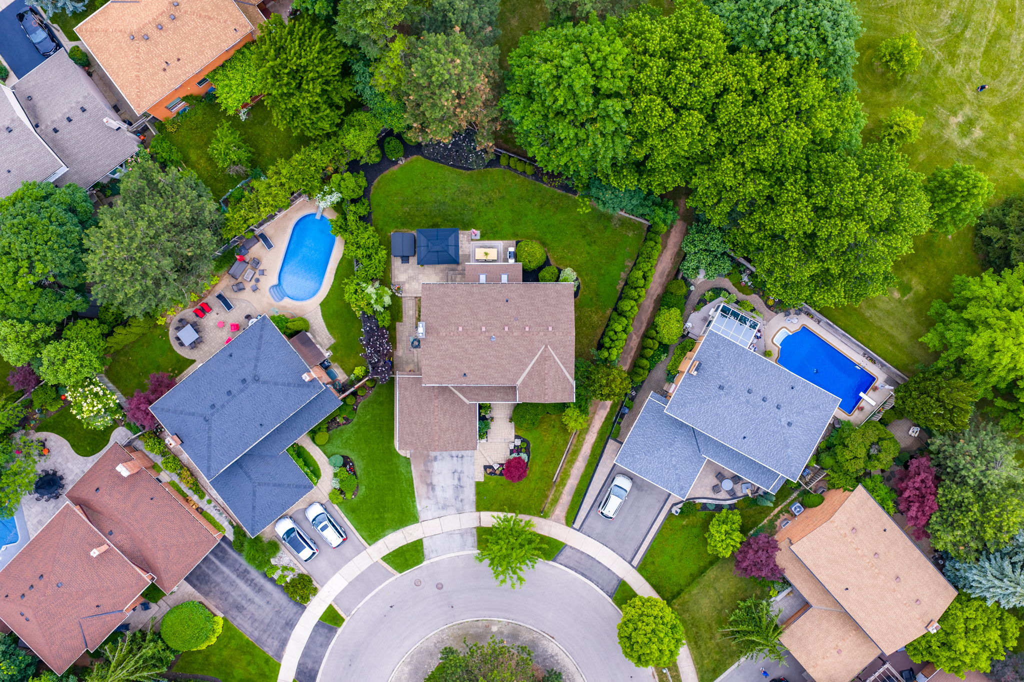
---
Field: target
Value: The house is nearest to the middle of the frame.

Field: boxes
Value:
[398,263,576,454]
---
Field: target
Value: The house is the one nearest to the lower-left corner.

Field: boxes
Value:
[0,442,228,677]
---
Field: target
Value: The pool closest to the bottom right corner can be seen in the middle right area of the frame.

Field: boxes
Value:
[772,324,879,416]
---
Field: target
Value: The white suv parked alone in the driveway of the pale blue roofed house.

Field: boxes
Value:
[598,472,631,523]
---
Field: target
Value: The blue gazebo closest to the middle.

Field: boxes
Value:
[416,229,460,267]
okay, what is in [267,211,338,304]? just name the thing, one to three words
swimming pool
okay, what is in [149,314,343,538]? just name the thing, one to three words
house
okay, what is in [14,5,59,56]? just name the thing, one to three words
car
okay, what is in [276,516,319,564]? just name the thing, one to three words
car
